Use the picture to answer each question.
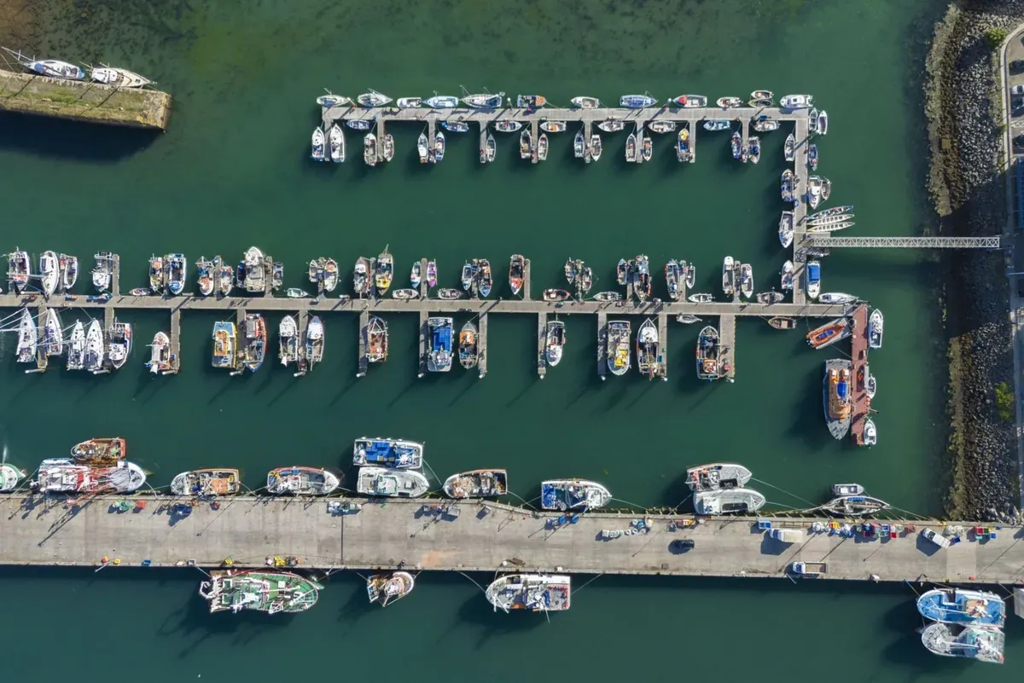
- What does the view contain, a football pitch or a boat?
boat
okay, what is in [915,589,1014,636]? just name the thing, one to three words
boat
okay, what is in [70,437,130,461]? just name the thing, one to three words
boat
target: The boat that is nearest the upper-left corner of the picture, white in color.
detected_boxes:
[0,37,90,79]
